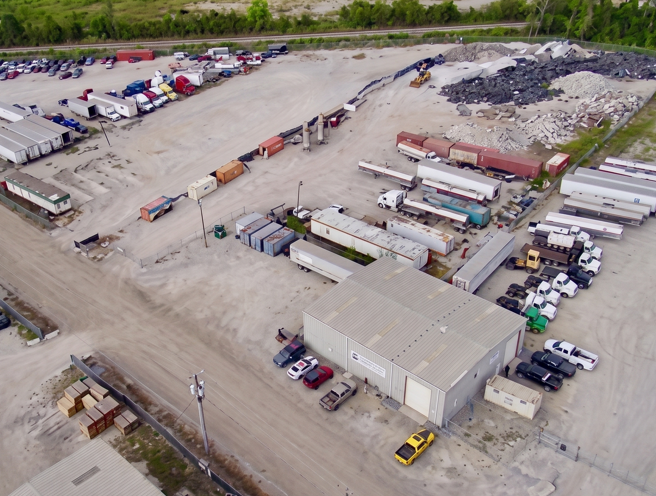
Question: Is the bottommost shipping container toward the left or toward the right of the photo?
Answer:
right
